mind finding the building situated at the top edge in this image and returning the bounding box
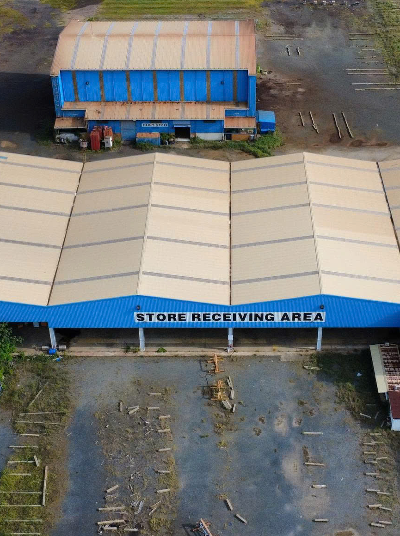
[46,18,258,142]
